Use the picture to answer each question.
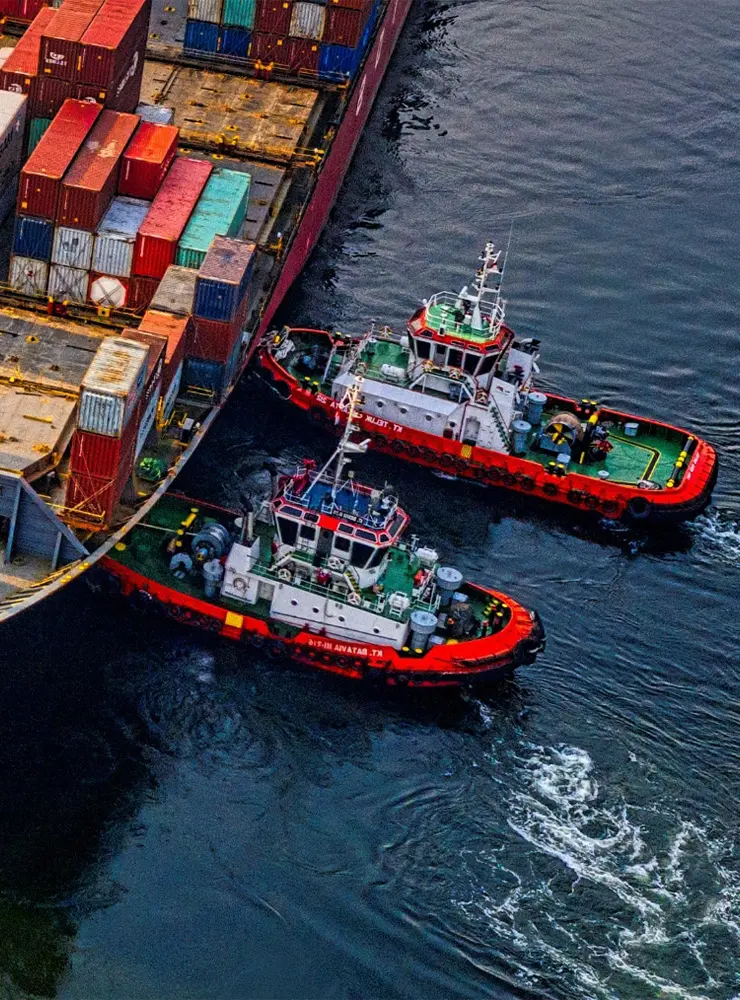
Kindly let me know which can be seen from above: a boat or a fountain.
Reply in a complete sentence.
Visible in the photo is a boat.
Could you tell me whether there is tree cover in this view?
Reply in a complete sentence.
No, the picture contains no tree cover.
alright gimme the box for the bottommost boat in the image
[91,372,538,695]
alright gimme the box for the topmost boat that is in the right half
[254,213,719,521]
